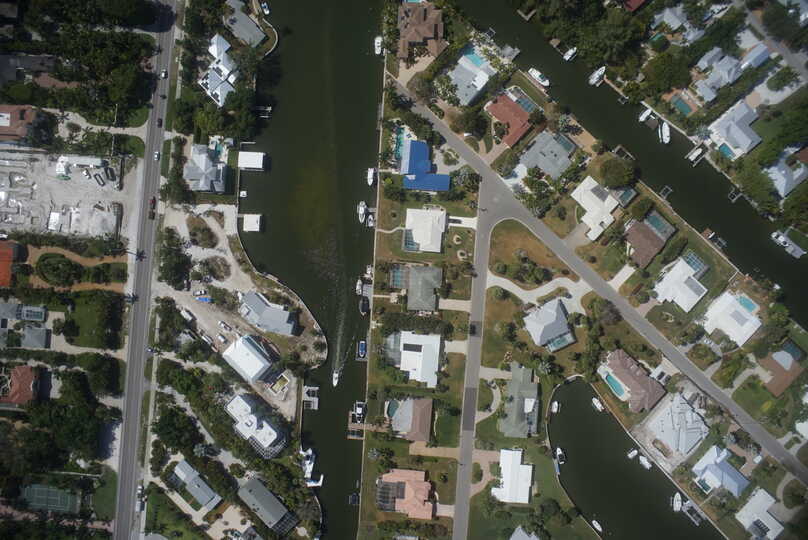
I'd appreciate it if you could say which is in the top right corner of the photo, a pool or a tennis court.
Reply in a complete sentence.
Looking in the top right corner of the photo, you will find a pool.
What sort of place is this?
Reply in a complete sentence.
The picture captures a residential area.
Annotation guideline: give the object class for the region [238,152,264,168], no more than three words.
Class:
building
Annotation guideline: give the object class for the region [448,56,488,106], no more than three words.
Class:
house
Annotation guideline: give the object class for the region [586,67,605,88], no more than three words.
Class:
boat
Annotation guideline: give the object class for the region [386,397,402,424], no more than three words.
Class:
swimming pool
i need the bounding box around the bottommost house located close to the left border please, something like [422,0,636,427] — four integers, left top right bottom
[0,366,38,407]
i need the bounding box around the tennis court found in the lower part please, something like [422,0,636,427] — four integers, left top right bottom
[17,482,77,518]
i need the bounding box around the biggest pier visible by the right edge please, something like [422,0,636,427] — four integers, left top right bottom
[770,227,806,258]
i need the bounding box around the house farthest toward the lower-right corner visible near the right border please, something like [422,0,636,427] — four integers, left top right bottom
[735,489,784,540]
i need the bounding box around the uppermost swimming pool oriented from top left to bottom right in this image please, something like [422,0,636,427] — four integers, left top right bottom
[460,45,497,77]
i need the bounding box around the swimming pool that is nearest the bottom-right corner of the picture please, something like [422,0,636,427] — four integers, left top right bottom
[694,476,721,495]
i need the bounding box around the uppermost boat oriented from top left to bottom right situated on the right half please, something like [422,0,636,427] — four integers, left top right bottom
[529,67,548,84]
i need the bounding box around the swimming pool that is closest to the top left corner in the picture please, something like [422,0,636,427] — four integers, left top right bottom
[208,136,229,164]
